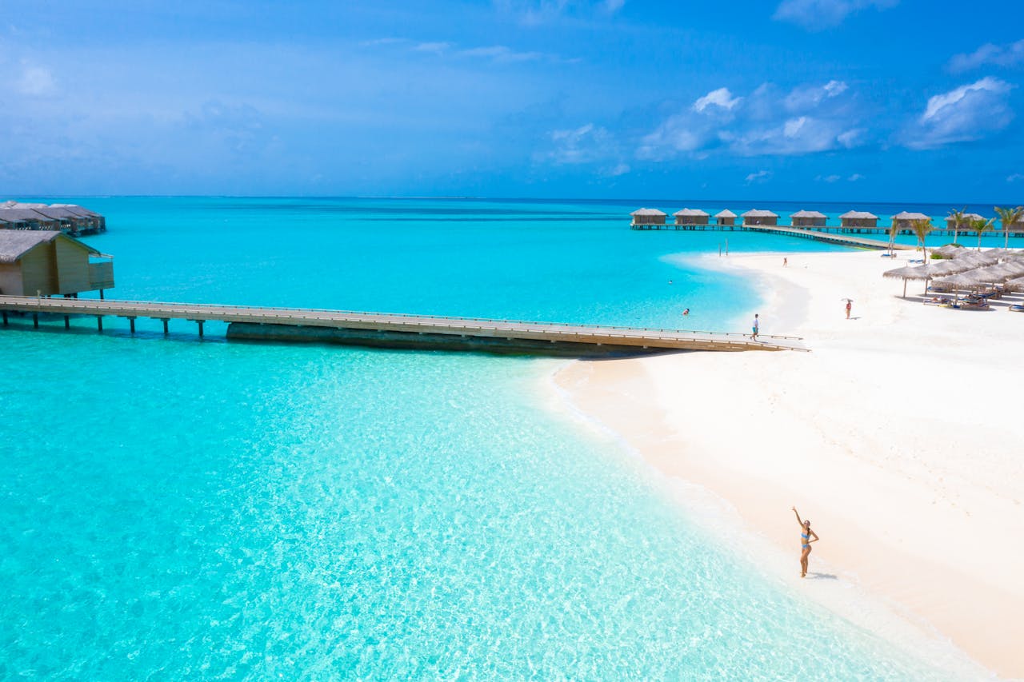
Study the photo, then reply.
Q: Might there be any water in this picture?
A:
Yes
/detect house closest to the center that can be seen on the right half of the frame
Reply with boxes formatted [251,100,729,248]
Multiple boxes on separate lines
[628,209,669,231]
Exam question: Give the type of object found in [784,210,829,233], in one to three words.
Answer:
house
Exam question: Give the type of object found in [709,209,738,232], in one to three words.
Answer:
house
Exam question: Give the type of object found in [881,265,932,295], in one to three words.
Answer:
umbrella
